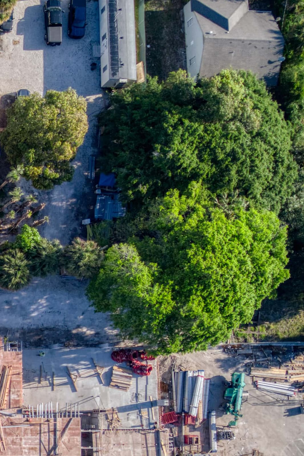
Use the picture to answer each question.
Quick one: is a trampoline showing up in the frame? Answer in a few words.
No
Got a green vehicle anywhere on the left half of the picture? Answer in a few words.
No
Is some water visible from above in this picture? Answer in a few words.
No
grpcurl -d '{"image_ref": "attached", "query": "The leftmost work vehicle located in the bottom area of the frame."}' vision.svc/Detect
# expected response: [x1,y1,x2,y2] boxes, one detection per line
[216,369,252,419]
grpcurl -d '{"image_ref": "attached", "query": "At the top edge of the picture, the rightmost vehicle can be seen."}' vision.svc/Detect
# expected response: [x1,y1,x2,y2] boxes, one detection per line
[67,0,87,39]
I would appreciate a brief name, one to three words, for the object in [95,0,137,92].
house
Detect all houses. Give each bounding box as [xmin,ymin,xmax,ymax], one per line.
[185,0,292,88]
[95,0,137,92]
